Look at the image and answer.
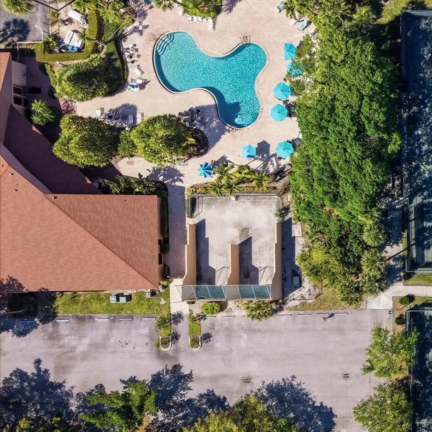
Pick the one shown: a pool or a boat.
pool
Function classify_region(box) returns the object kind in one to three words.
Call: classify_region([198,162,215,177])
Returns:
umbrella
